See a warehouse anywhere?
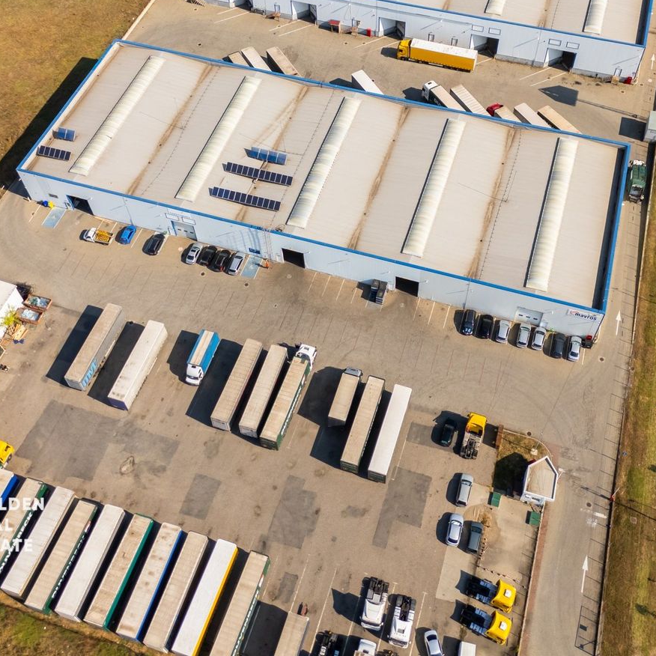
Yes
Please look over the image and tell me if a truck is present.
Yes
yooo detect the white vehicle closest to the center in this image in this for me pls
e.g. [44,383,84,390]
[296,340,321,383]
